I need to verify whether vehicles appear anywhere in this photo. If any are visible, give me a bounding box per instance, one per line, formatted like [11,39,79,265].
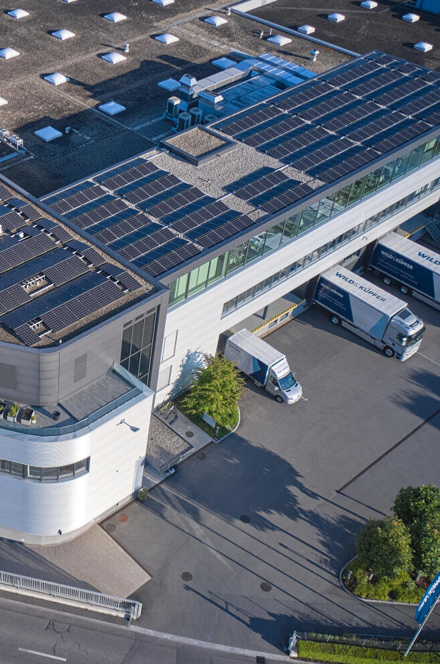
[318,268,430,363]
[226,329,302,404]
[370,235,440,311]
